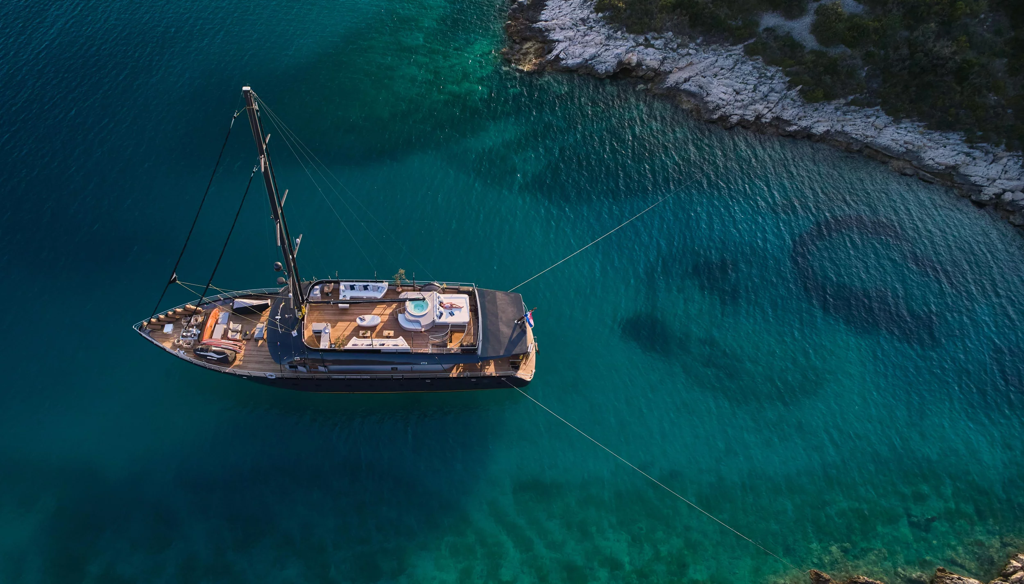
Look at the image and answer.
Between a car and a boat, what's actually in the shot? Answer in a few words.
boat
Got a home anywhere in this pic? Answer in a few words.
No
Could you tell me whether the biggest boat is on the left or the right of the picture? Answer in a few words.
left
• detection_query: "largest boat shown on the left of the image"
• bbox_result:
[136,80,541,394]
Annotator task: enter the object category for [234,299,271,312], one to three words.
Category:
boat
